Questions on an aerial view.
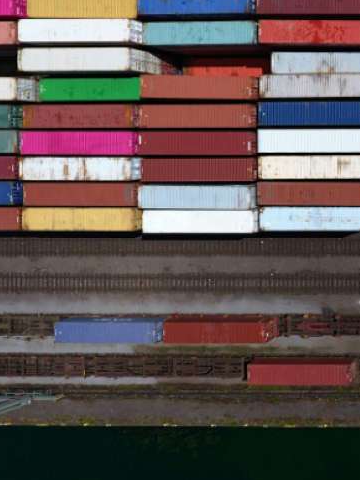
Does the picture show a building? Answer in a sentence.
No, there's no building here.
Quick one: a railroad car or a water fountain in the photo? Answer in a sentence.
It is a railroad car that can be seen here.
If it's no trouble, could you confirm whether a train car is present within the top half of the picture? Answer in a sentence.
No, I can find no train car within the top half of the picture.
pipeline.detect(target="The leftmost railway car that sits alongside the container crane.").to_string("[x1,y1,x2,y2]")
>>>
[0,355,85,377]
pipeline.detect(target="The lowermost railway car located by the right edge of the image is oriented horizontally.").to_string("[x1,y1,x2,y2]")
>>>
[243,356,357,375]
